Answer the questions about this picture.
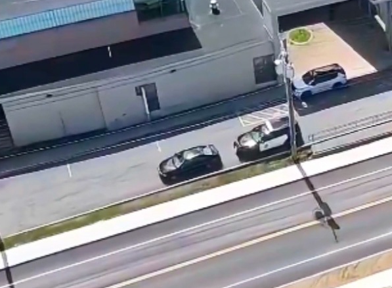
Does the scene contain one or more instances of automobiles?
Yes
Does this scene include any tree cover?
No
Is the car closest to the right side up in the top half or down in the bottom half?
top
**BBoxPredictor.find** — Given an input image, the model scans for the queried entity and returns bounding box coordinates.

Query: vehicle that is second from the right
[231,108,301,151]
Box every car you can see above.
[291,59,346,95]
[156,138,223,178]
[231,108,301,151]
